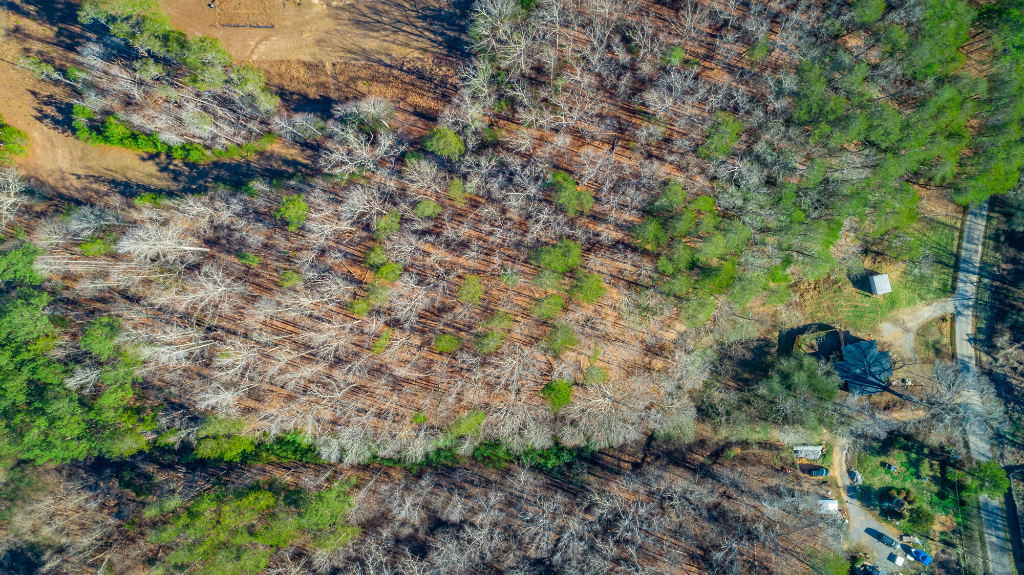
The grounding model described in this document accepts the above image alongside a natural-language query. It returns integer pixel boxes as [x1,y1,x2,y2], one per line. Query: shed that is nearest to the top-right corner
[868,274,891,295]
